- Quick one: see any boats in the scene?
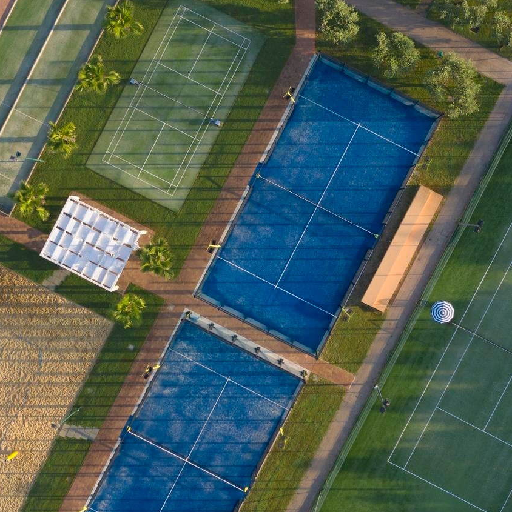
No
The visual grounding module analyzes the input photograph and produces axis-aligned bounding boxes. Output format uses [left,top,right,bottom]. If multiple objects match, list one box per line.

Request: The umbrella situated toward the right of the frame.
[430,300,454,324]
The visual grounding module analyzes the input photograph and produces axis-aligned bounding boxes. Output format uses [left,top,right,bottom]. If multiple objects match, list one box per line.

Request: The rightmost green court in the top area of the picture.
[85,0,265,213]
